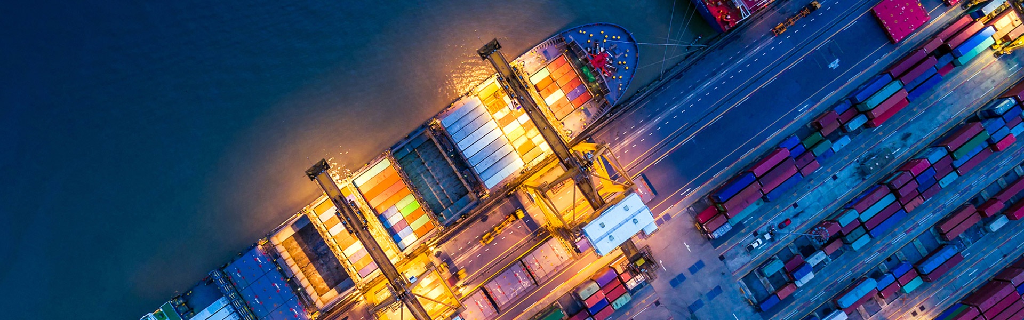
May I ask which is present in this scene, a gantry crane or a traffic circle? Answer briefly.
gantry crane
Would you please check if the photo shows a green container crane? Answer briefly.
No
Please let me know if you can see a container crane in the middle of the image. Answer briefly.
Yes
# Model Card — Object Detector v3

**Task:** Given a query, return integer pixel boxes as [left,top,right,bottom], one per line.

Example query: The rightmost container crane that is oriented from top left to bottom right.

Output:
[468,36,665,290]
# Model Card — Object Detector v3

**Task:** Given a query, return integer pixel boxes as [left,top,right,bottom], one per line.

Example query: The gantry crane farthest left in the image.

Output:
[292,161,486,320]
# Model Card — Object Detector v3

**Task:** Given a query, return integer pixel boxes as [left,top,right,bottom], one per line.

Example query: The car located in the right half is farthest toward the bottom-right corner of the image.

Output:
[777,217,793,229]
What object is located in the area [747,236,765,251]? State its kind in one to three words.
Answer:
vehicle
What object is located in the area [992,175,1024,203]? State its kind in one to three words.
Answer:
shipping container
